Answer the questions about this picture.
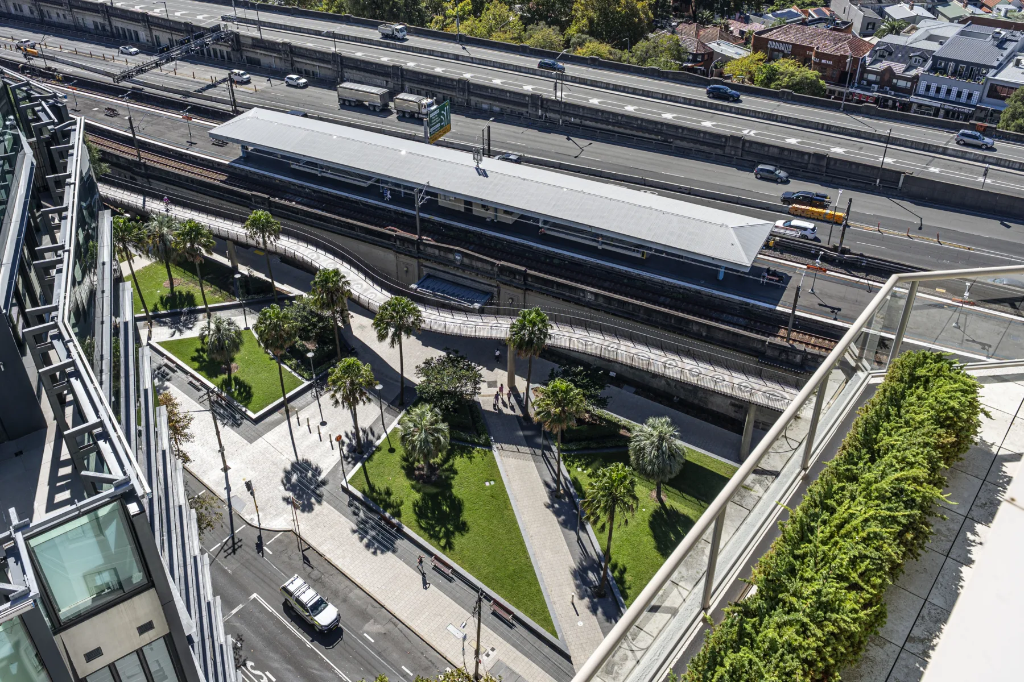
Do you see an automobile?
Yes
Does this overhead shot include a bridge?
Yes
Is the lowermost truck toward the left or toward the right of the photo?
left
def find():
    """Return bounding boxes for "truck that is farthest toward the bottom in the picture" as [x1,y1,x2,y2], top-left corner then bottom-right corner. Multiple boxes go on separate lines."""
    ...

[280,575,347,638]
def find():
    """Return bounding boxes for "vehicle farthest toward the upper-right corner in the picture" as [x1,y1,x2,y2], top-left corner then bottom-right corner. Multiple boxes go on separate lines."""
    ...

[956,130,994,149]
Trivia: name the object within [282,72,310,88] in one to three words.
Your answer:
car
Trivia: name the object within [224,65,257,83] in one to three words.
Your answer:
vehicle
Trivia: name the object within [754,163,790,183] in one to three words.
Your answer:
car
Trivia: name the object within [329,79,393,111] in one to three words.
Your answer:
trailer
